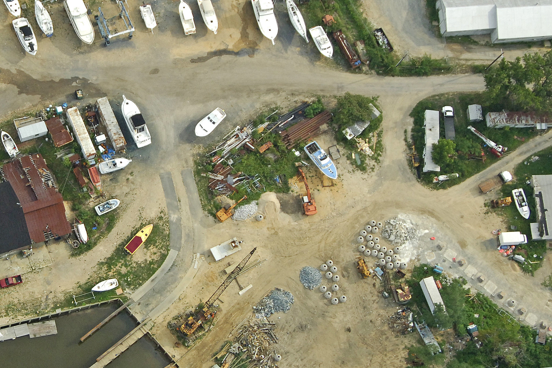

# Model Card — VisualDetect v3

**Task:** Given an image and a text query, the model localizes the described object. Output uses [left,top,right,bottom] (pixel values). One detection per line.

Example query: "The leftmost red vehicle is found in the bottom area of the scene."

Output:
[0,273,24,288]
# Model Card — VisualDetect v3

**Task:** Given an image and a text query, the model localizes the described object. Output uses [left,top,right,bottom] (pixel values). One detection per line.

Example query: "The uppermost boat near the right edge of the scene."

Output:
[511,188,529,218]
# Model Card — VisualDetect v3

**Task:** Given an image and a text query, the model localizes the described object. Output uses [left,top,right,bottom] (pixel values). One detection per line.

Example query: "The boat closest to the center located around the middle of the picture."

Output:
[304,141,337,179]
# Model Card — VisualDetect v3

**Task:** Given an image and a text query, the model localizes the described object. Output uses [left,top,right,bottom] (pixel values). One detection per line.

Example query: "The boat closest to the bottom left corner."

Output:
[92,278,119,295]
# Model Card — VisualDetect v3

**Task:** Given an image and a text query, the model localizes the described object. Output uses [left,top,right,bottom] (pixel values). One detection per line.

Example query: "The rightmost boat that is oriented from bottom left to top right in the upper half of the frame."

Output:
[195,106,228,136]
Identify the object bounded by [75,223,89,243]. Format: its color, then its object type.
white boat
